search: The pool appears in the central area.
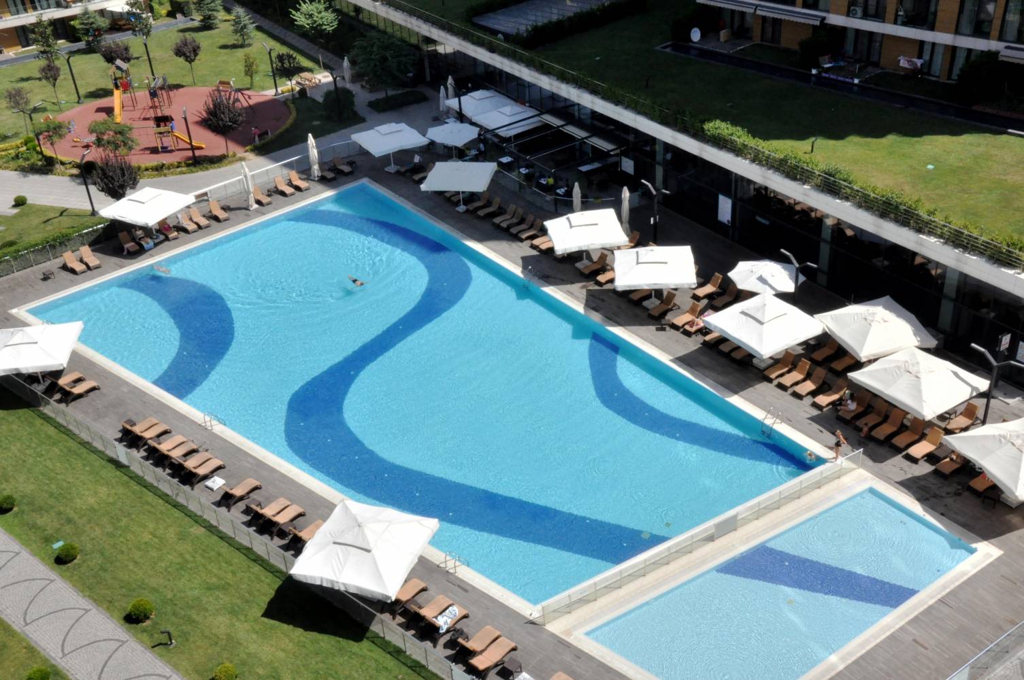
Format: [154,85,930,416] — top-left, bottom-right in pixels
[27,183,825,605]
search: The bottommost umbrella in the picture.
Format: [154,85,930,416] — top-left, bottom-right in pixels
[291,507,439,603]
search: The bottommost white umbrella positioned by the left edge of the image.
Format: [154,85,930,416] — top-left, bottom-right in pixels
[0,323,85,388]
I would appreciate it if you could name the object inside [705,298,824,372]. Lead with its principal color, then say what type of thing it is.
white umbrella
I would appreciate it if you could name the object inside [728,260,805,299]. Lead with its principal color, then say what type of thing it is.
white umbrella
